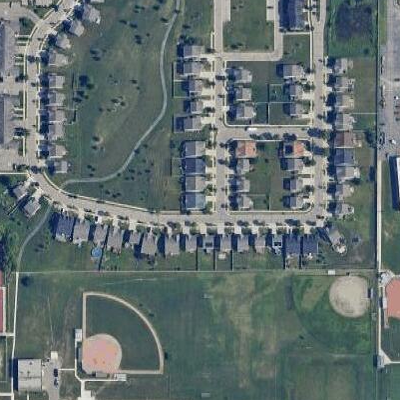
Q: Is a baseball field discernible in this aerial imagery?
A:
Yes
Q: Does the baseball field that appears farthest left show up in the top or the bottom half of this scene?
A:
bottom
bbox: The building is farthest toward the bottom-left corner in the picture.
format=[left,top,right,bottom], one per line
[18,359,42,391]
